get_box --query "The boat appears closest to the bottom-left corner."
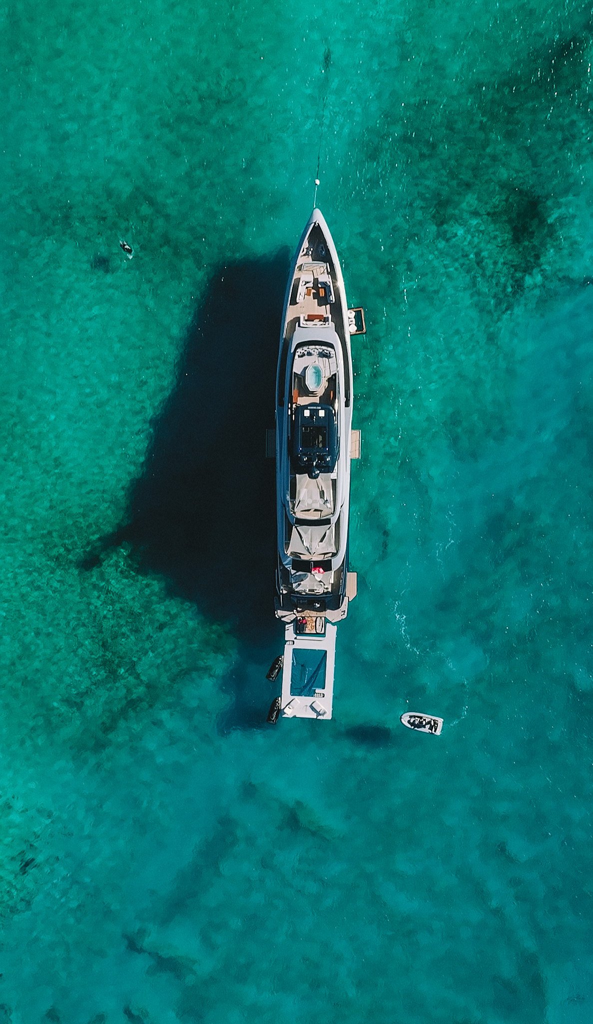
[267,697,280,724]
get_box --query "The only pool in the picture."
[281,623,338,721]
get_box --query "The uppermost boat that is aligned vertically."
[266,205,366,623]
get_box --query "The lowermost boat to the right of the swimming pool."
[401,714,444,735]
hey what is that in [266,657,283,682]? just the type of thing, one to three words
boat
